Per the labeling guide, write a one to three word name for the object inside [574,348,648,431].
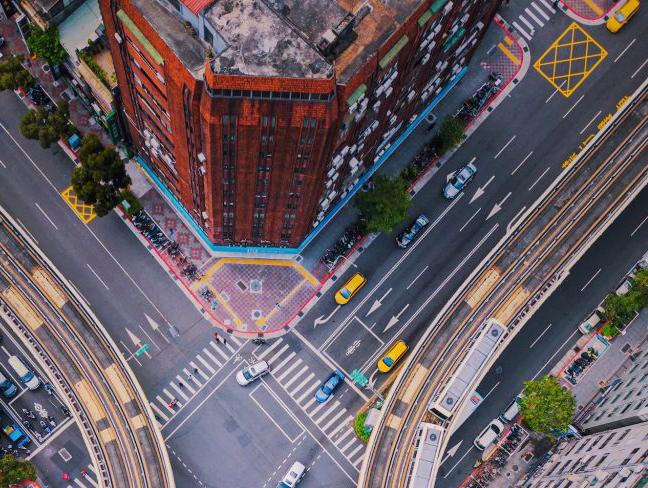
building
